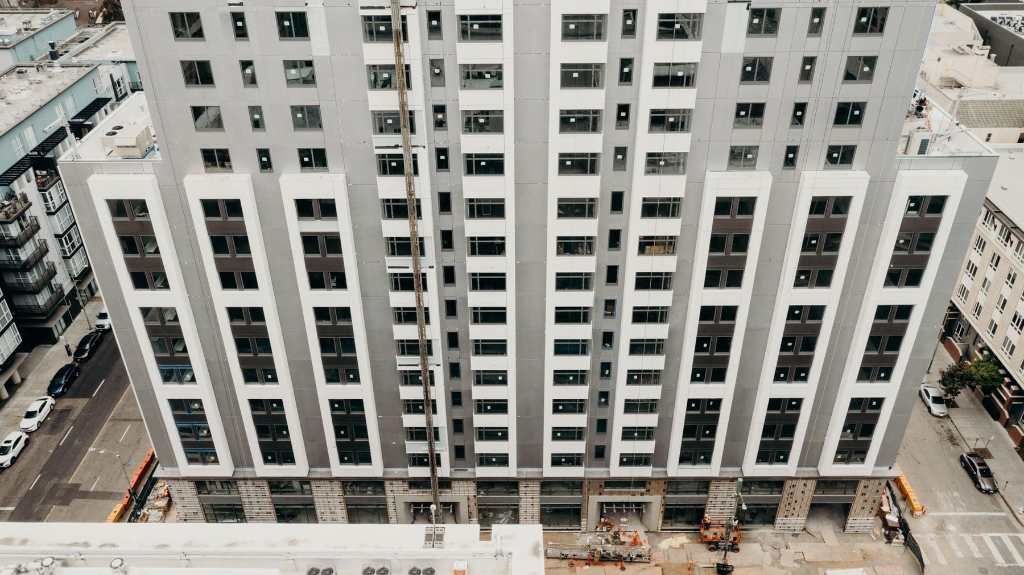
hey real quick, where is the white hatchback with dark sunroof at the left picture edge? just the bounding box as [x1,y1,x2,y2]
[0,432,32,465]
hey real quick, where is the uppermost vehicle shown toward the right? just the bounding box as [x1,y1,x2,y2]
[918,385,949,418]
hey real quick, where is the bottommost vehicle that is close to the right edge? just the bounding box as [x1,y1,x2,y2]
[961,455,1000,495]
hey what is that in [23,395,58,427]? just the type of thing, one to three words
car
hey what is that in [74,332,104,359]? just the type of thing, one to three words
car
